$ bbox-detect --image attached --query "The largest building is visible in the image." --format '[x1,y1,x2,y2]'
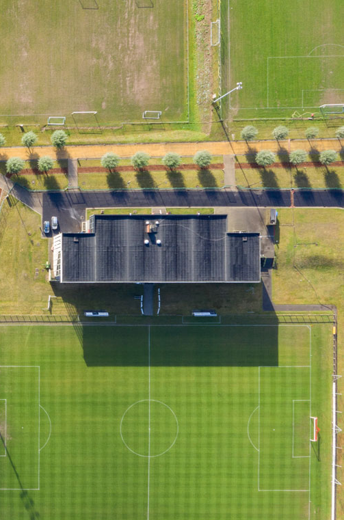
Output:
[52,215,261,285]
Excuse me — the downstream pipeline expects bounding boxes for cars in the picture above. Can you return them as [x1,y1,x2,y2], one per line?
[43,220,50,233]
[51,216,58,231]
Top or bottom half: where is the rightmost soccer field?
top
